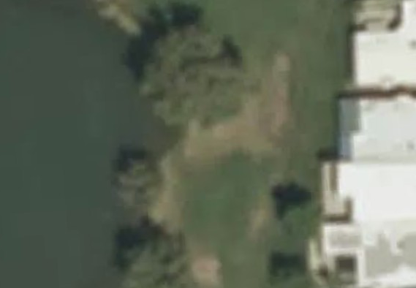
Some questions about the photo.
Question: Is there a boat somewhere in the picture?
No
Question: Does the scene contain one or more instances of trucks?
No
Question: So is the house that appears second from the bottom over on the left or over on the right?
right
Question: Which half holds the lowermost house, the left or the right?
right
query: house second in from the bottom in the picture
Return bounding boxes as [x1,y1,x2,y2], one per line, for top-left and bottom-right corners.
[322,162,416,224]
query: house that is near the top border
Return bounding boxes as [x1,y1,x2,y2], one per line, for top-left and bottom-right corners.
[342,0,416,98]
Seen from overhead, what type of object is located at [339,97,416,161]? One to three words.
house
